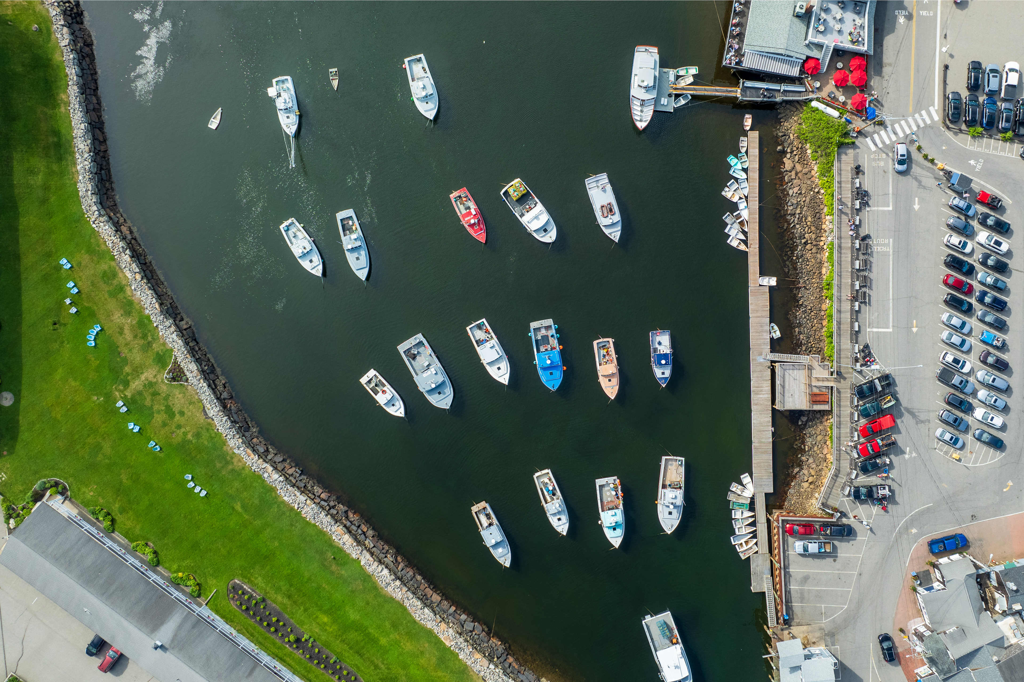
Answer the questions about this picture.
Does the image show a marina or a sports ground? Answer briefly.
marina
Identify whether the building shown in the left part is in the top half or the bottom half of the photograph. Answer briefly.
bottom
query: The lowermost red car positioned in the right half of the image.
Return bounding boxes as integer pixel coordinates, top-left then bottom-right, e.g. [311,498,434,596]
[785,523,815,537]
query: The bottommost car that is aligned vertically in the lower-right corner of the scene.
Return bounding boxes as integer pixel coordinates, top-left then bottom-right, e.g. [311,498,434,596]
[878,632,895,664]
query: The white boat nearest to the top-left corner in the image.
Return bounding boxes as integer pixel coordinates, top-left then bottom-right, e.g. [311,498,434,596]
[208,107,222,129]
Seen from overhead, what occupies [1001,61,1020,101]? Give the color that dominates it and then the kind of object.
white vehicle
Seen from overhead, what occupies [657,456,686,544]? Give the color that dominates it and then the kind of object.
white boat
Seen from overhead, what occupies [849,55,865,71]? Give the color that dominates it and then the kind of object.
red umbrella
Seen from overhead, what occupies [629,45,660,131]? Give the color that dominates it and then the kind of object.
white boat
